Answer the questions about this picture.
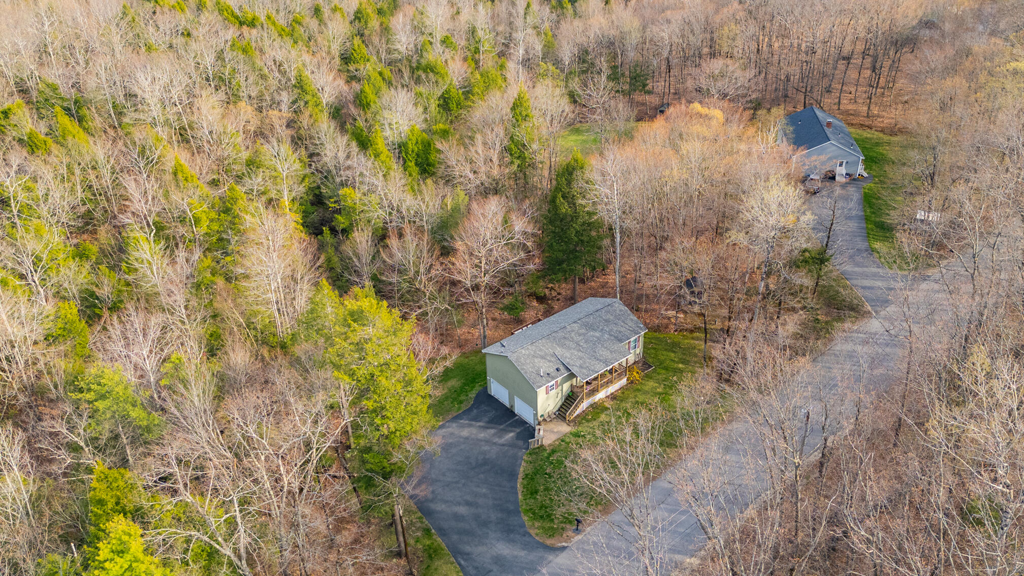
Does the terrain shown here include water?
No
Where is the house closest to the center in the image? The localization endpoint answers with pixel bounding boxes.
[481,298,647,429]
